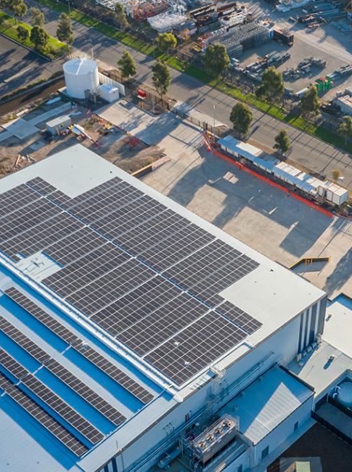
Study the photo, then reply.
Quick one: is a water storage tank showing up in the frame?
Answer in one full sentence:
Yes, a water storage tank is visible in the scene.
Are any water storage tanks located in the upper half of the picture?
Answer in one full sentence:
Yes, a water storage tank can be seen in the upper half of the picture.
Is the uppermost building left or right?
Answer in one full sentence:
It is on the left.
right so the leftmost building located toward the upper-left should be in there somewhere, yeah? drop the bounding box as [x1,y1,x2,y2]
[45,116,72,134]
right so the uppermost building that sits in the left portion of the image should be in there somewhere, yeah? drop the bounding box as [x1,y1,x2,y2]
[100,84,120,106]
